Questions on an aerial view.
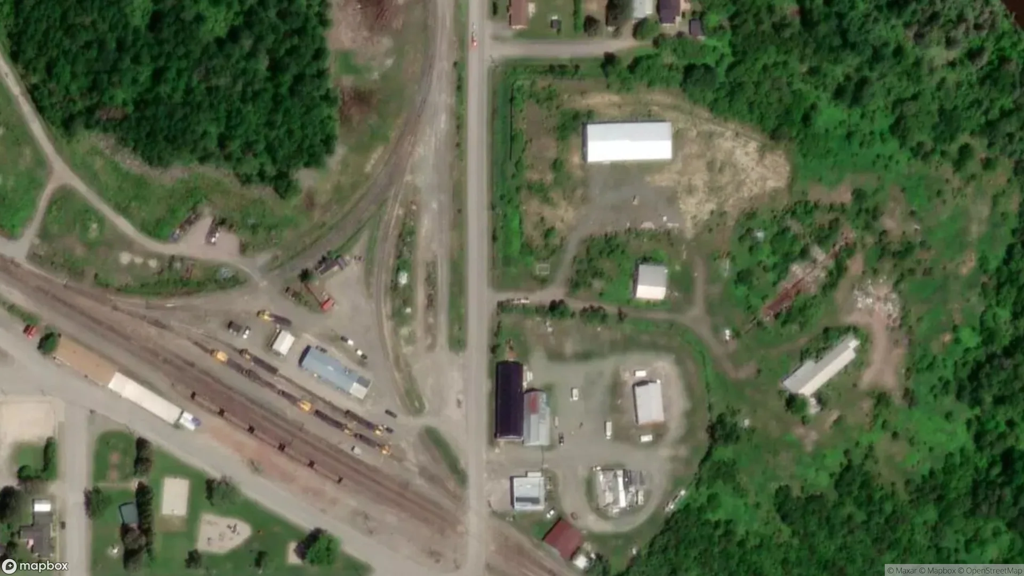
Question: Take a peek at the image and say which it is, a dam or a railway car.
railway car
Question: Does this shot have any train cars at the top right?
No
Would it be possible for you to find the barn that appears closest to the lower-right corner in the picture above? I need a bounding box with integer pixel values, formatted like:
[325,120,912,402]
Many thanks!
[783,337,860,396]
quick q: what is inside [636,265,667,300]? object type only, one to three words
shed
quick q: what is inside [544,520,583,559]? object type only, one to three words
barn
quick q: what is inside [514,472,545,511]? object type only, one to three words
building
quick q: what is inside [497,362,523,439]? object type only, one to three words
barn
